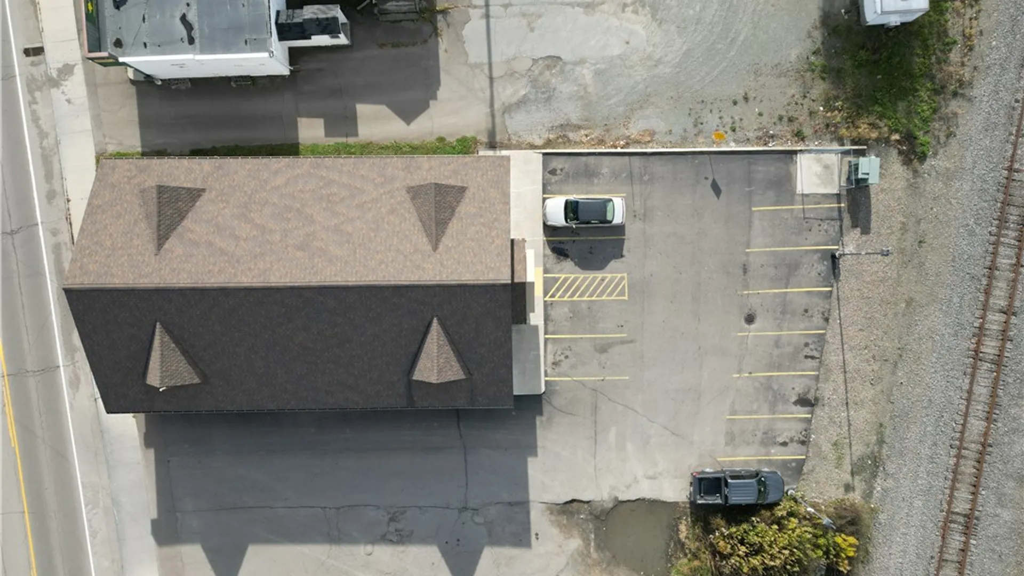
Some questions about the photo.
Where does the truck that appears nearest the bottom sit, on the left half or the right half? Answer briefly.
right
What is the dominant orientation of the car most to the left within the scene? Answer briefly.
from left to right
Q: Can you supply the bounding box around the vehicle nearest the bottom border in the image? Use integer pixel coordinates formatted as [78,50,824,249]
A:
[688,468,783,510]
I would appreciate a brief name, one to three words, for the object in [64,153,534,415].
building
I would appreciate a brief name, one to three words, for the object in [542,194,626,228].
car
